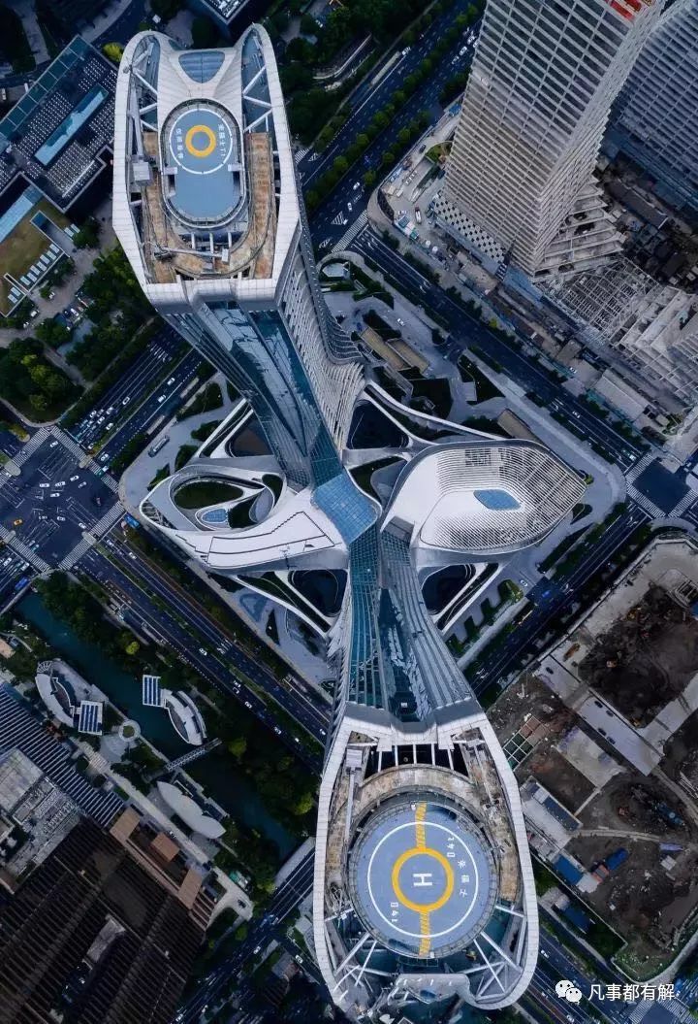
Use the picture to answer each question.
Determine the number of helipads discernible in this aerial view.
2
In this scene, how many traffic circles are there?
0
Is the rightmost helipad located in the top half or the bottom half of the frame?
bottom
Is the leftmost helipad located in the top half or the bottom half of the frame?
top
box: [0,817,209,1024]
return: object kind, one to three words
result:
building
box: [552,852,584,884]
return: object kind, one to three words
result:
shed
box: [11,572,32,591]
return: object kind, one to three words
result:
vehicle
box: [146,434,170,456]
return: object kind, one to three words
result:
bus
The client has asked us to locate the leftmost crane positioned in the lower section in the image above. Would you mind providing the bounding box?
[345,744,363,842]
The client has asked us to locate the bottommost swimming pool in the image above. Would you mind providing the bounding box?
[237,594,266,622]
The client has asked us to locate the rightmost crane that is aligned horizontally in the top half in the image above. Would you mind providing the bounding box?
[144,240,232,268]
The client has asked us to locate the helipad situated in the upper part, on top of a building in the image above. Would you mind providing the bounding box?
[160,99,244,233]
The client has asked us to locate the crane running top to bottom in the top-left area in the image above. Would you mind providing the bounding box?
[130,105,155,188]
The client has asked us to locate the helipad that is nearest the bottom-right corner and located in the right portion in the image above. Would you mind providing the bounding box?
[347,790,500,965]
